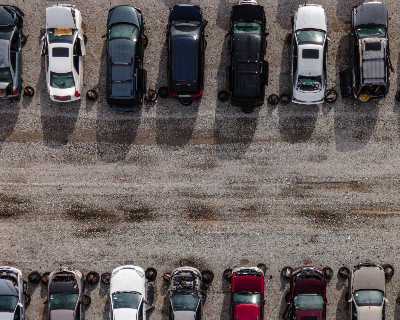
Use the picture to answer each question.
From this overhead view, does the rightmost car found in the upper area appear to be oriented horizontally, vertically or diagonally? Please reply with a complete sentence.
From this overhead view, the rightmost car found in the upper area appears to run vertically.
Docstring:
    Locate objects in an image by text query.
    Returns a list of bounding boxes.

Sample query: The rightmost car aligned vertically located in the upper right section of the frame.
[349,2,394,102]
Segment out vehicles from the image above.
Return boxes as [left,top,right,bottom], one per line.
[347,264,389,320]
[226,4,269,107]
[44,267,87,320]
[106,265,147,320]
[282,266,330,320]
[349,2,394,102]
[226,266,269,320]
[166,266,204,320]
[290,5,332,105]
[102,5,145,111]
[0,266,27,320]
[0,6,24,100]
[41,5,89,102]
[163,5,207,100]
